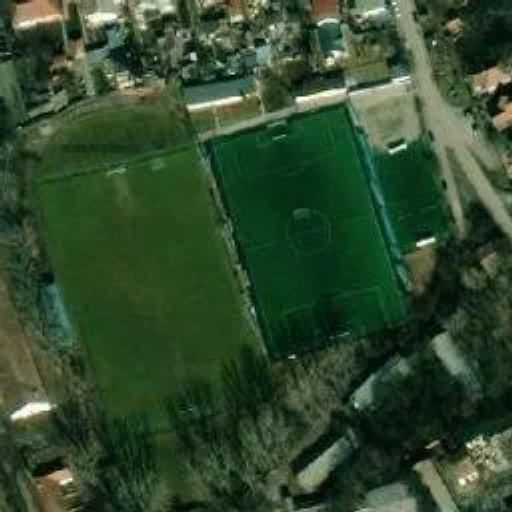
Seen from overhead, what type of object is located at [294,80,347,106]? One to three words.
building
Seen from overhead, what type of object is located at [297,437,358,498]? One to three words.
building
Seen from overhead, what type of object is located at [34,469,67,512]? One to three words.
house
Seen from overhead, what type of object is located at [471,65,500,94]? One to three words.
house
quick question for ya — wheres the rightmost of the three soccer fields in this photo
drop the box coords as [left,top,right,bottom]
[369,142,447,250]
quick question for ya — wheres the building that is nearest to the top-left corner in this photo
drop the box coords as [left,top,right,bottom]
[10,0,63,29]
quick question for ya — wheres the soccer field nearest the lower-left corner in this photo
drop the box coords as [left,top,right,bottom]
[40,148,276,425]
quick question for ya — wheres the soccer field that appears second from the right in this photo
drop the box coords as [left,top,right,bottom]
[212,104,407,356]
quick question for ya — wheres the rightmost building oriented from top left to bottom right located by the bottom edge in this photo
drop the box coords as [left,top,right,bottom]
[414,458,464,512]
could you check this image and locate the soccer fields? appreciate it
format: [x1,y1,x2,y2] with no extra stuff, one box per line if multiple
[212,104,407,356]
[369,142,447,250]
[40,148,276,425]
